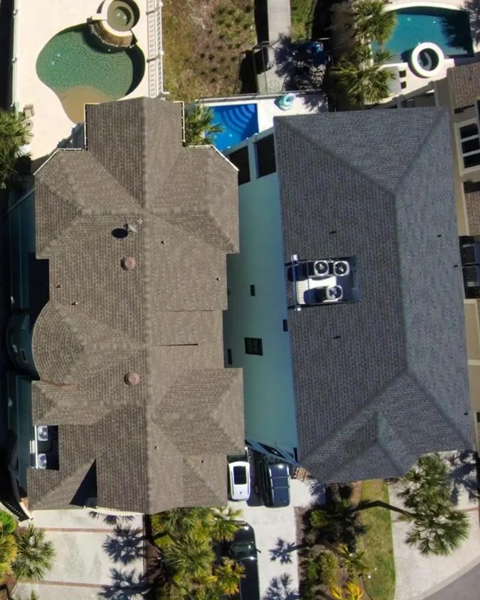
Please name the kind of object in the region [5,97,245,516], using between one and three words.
house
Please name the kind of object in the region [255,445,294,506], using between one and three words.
car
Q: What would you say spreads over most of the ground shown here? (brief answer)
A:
buildings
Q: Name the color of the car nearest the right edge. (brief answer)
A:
black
